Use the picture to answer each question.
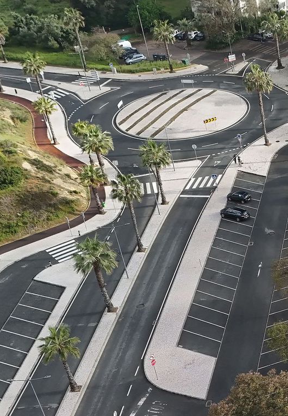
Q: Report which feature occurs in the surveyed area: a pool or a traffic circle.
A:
traffic circle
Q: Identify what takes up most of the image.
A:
paved ground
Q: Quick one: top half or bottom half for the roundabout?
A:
top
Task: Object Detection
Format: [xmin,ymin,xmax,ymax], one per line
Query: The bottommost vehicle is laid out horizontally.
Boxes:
[217,206,252,224]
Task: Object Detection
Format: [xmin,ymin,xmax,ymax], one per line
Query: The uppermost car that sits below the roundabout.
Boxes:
[223,190,254,206]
